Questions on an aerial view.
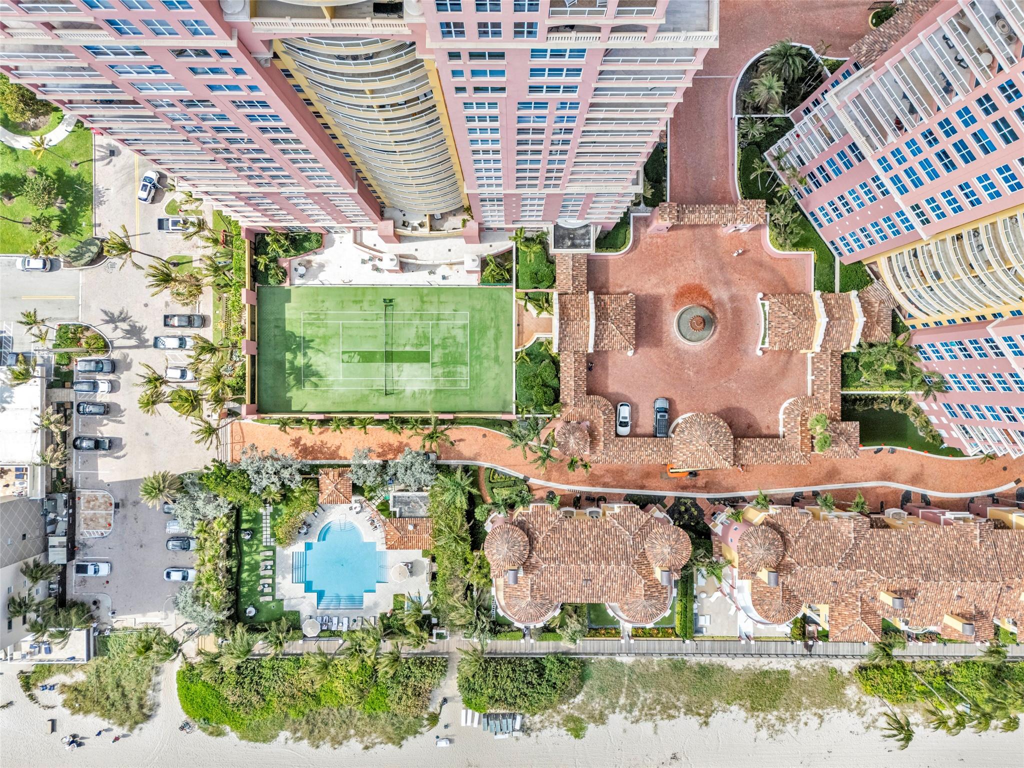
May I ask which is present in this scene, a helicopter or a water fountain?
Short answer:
water fountain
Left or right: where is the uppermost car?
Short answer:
left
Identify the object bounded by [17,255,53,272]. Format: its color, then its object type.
white car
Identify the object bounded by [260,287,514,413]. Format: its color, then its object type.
green tennis court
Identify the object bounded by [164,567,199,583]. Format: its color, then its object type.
white car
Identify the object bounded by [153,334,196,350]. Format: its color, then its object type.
white vehicle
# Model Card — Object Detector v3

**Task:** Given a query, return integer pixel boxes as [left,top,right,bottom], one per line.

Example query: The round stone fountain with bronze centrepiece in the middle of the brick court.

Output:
[674,304,716,346]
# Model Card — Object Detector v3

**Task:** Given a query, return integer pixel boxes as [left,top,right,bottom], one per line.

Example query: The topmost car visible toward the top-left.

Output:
[140,170,163,206]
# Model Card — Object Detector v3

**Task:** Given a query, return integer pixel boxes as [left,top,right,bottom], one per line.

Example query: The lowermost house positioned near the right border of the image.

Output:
[704,498,1024,643]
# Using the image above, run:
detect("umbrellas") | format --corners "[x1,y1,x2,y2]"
[301,616,322,638]
[390,562,410,583]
